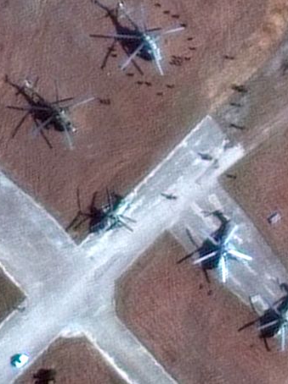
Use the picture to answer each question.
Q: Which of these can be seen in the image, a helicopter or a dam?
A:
helicopter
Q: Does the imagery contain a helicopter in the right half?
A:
Yes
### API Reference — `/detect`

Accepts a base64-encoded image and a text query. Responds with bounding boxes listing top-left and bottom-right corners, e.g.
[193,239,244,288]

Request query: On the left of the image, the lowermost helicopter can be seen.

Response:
[77,184,147,256]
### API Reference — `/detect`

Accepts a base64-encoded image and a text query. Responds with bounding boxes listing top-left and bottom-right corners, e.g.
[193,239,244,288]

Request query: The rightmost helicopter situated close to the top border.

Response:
[107,1,182,70]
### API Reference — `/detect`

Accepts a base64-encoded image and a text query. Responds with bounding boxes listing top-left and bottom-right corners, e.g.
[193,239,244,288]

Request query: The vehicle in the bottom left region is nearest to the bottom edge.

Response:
[10,353,30,370]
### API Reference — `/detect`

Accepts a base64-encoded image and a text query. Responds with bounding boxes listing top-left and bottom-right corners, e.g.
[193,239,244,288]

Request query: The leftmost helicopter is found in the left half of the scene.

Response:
[19,74,94,143]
